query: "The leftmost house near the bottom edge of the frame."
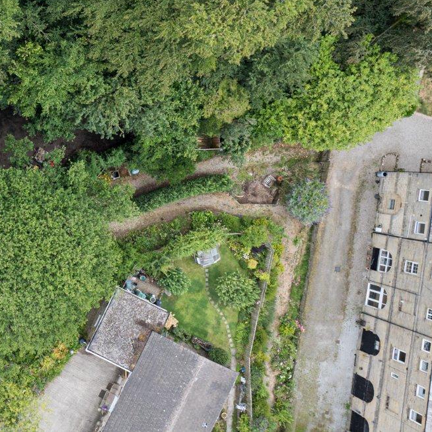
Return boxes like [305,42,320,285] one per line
[85,284,240,432]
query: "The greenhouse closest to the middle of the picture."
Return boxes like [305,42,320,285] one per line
[191,245,220,268]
